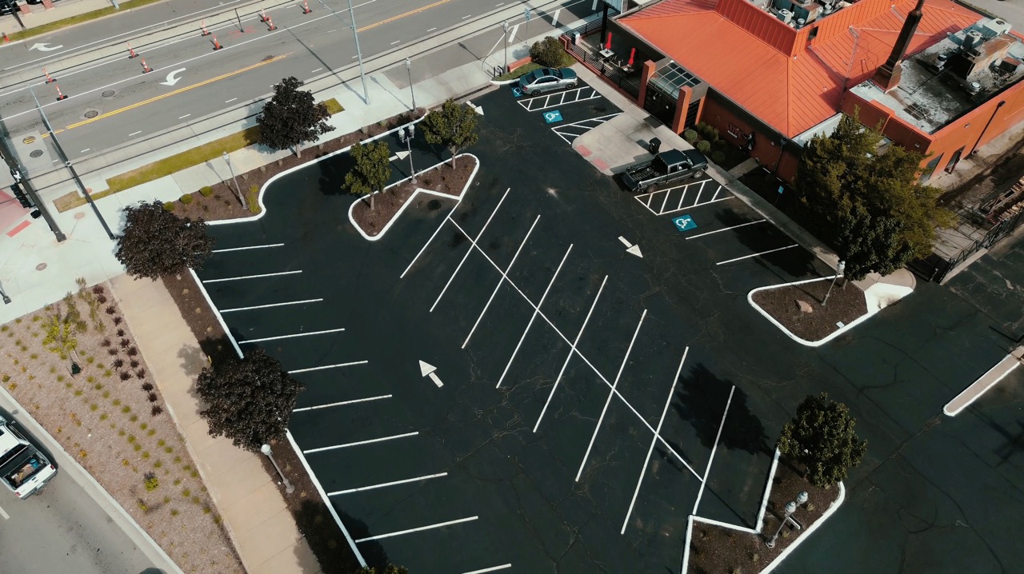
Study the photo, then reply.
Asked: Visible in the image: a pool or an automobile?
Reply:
automobile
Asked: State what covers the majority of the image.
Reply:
paved ground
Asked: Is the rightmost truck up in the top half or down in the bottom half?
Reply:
top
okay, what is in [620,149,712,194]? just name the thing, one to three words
truck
